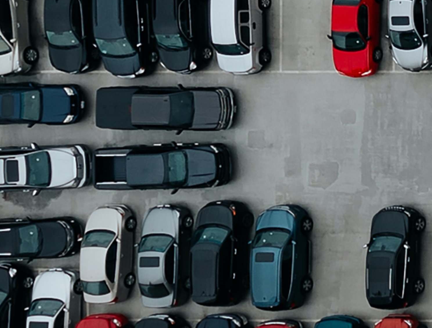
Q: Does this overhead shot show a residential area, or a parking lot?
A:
parking lot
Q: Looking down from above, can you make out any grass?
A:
No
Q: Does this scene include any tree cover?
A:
No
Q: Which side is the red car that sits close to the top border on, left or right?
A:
right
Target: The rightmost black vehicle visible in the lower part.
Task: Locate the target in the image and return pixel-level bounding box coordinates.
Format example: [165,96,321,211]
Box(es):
[363,205,425,310]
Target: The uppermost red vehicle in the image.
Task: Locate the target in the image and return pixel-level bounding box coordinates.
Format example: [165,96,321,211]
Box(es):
[325,0,383,78]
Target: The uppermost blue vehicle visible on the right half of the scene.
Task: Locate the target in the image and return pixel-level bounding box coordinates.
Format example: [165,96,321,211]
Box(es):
[247,203,311,312]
